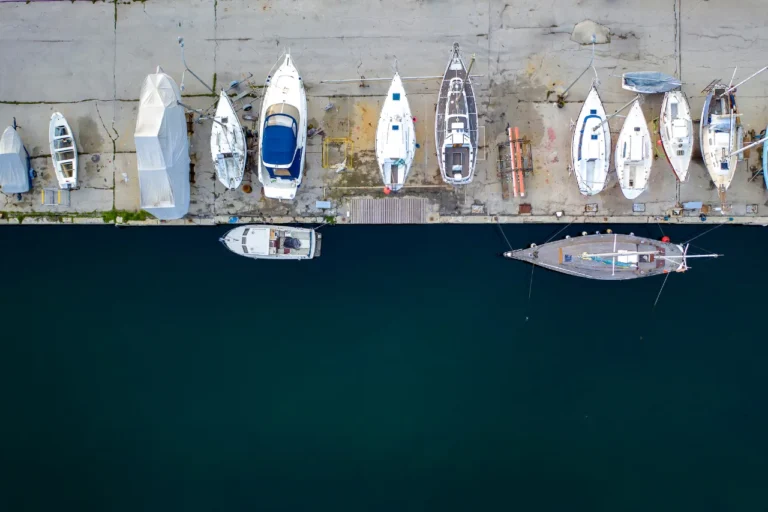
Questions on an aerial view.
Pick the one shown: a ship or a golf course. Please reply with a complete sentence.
It is a ship that can be seen here.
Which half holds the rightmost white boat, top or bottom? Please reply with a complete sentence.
The rightmost white boat sits in the top half of the picture.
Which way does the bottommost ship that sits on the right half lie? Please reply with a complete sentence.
The bottommost ship that sits on the right half has been laid out from left to right relative to the frame.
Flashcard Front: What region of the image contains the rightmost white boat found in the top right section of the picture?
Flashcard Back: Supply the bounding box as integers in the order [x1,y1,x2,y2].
[698,65,768,214]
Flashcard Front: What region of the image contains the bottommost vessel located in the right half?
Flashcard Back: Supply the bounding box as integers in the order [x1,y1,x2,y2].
[497,218,722,312]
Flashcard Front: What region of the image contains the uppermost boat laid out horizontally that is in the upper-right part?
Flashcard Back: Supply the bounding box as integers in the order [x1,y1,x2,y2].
[614,73,683,94]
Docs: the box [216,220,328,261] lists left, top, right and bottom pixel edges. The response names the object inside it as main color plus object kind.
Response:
white boat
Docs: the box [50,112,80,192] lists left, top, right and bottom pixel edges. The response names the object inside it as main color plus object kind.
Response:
white boat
